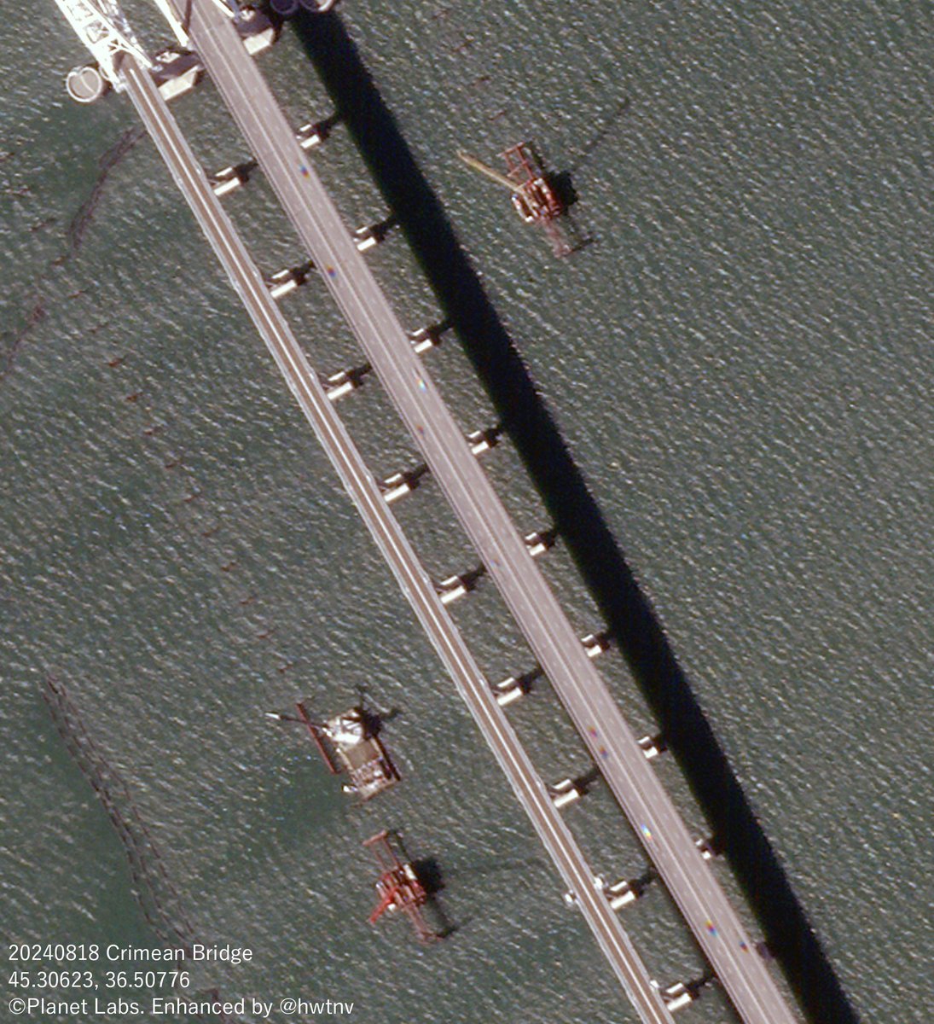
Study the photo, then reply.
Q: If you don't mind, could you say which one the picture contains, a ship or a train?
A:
ship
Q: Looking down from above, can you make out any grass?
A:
No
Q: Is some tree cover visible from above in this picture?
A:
No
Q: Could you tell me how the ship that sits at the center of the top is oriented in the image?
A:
on a diagonal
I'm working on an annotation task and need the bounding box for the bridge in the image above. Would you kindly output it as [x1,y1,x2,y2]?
[151,0,797,1024]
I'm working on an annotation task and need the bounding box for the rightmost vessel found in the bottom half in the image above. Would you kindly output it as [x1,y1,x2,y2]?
[367,832,437,943]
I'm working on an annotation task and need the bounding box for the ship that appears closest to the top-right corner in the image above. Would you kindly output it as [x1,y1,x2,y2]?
[458,144,572,259]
